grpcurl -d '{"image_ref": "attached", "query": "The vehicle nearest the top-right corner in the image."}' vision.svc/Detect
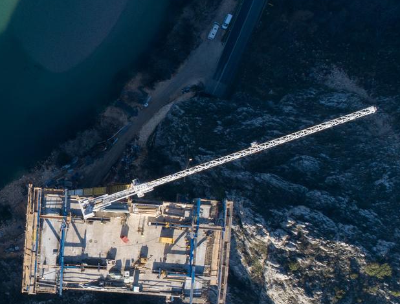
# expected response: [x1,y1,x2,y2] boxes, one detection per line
[222,12,236,29]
